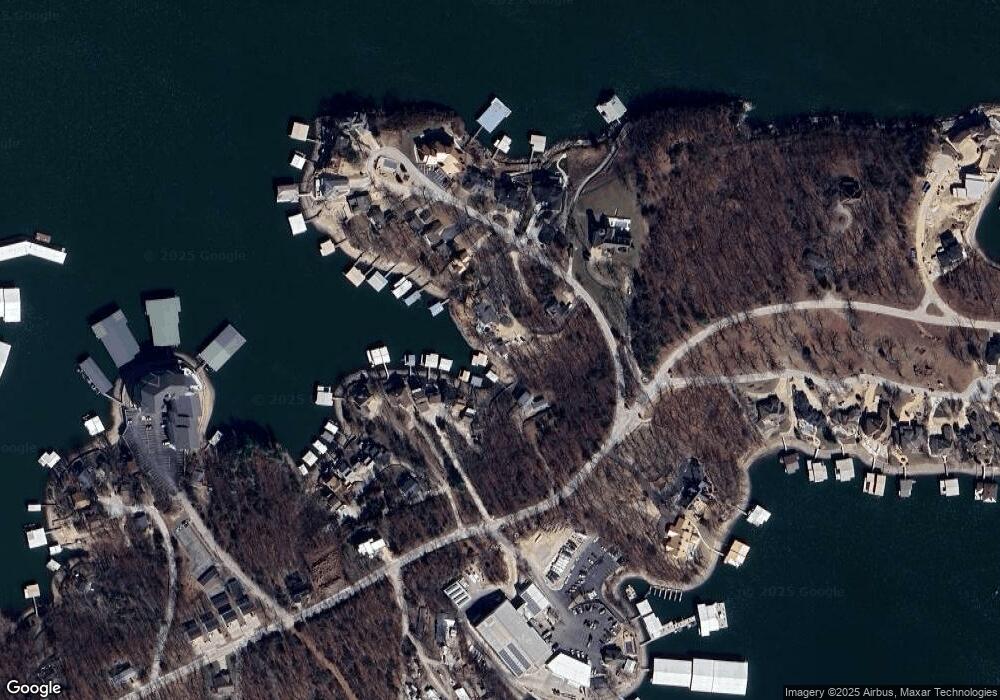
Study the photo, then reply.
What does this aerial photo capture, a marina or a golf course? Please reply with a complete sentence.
This image shows a marina.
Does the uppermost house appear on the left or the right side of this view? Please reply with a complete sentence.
You can find the uppermost house on the right side of the picture.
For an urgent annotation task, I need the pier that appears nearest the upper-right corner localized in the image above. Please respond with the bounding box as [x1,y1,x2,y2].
[598,96,626,127]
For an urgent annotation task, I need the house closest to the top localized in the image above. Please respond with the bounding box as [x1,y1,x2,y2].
[946,116,993,145]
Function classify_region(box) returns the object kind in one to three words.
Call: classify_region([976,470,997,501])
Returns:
pier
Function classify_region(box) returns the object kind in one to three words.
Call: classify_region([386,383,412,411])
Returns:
house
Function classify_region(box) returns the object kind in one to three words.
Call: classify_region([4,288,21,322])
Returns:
pier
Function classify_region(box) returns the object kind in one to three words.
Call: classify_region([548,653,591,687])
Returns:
building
